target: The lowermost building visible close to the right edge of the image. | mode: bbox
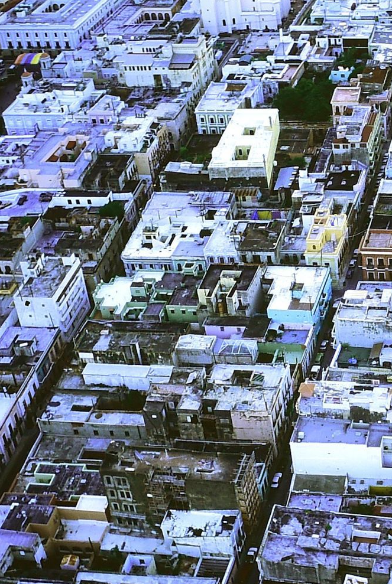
[257,504,392,584]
